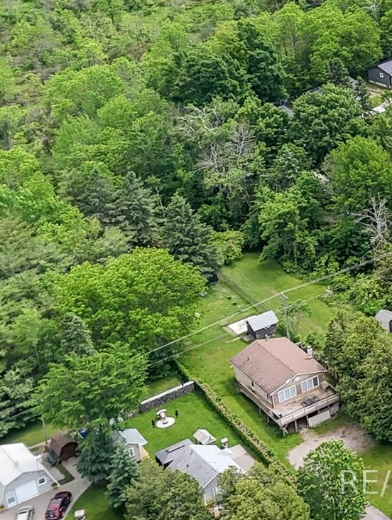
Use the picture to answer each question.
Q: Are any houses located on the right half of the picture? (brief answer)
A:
Yes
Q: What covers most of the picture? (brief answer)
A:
trees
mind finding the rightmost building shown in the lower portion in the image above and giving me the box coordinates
[375,308,392,333]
